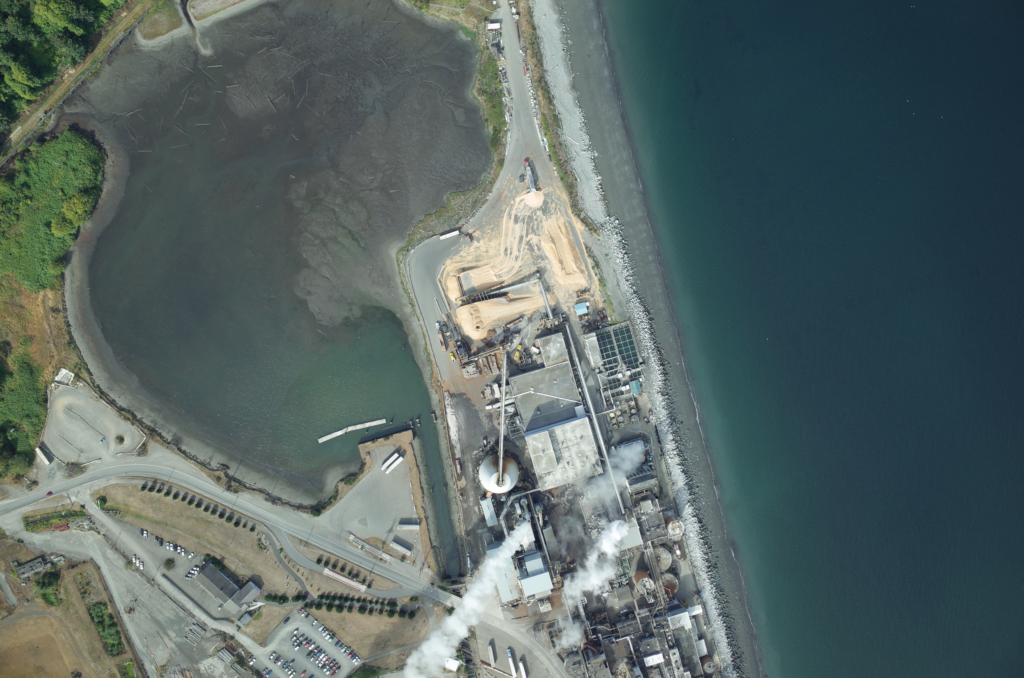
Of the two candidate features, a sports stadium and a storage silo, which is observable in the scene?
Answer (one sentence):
Of the two, only a storage silo appears.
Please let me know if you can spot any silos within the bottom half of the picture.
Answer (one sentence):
Yes, within the bottom half of the picture there is a silo.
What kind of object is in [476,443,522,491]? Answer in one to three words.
silo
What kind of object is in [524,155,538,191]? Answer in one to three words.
vehicle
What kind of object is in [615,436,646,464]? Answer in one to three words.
cooling tower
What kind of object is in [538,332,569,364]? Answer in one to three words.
building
